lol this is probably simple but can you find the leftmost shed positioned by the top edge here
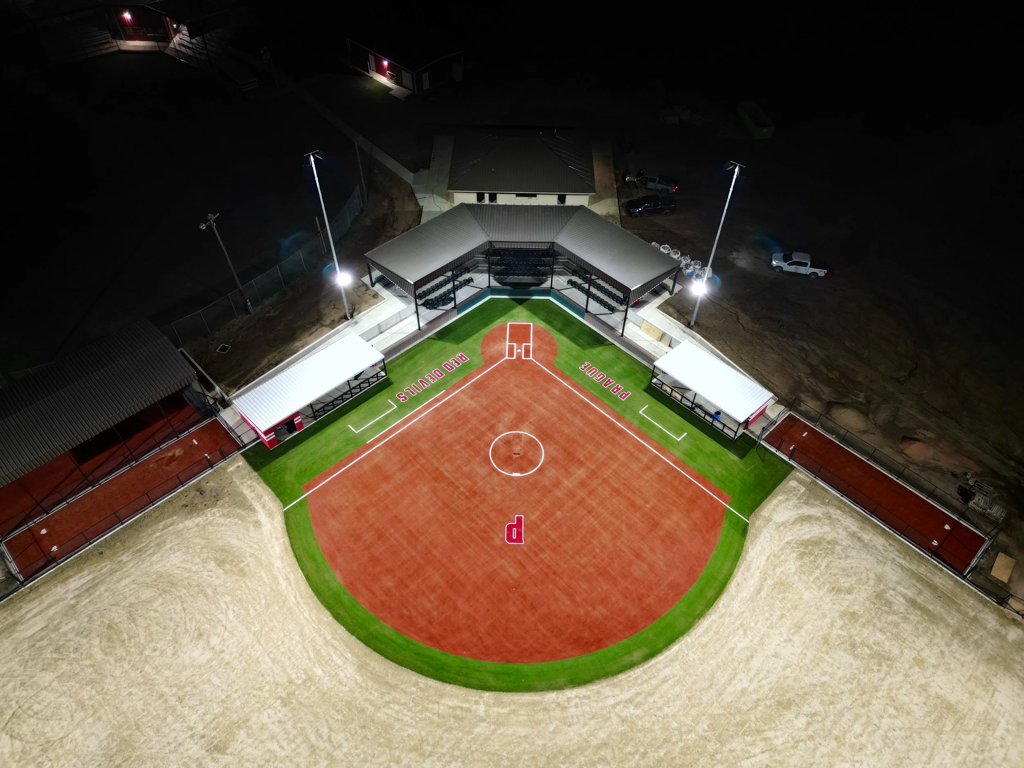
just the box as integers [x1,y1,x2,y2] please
[344,19,464,94]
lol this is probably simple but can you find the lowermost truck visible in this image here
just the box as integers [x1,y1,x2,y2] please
[769,251,828,279]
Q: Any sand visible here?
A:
Yes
